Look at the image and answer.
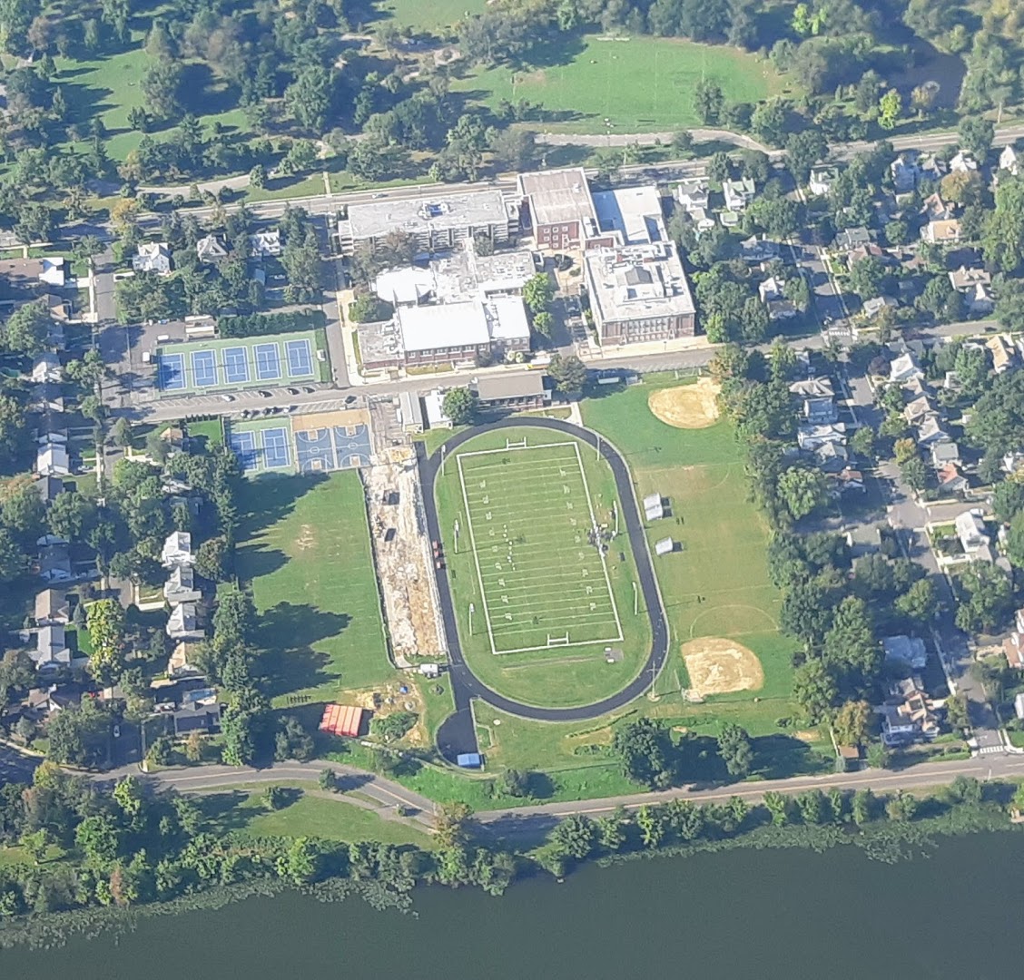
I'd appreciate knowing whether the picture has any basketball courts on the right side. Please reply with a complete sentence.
No, there's no basketball court to be seen on the right side.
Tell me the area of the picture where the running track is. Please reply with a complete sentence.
You can find the running track in the center area of the picture.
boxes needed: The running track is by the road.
[417,416,671,771]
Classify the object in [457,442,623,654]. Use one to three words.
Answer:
sports field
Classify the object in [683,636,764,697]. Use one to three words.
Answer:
baseball field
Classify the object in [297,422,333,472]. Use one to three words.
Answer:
basketball court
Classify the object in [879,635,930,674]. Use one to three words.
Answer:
house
